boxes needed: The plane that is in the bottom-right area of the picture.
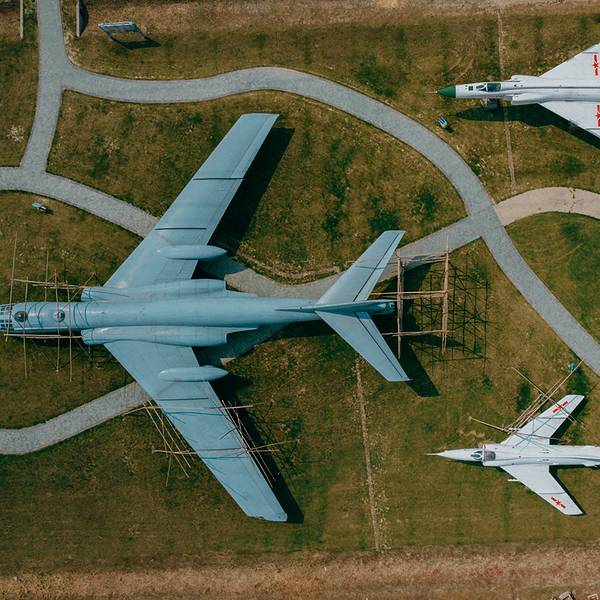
[427,395,600,515]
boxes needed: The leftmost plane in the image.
[0,113,411,521]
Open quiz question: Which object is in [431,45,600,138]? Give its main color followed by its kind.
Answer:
white airplane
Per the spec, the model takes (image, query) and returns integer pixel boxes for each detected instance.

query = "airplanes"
[431,45,600,138]
[0,113,411,521]
[427,395,600,515]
